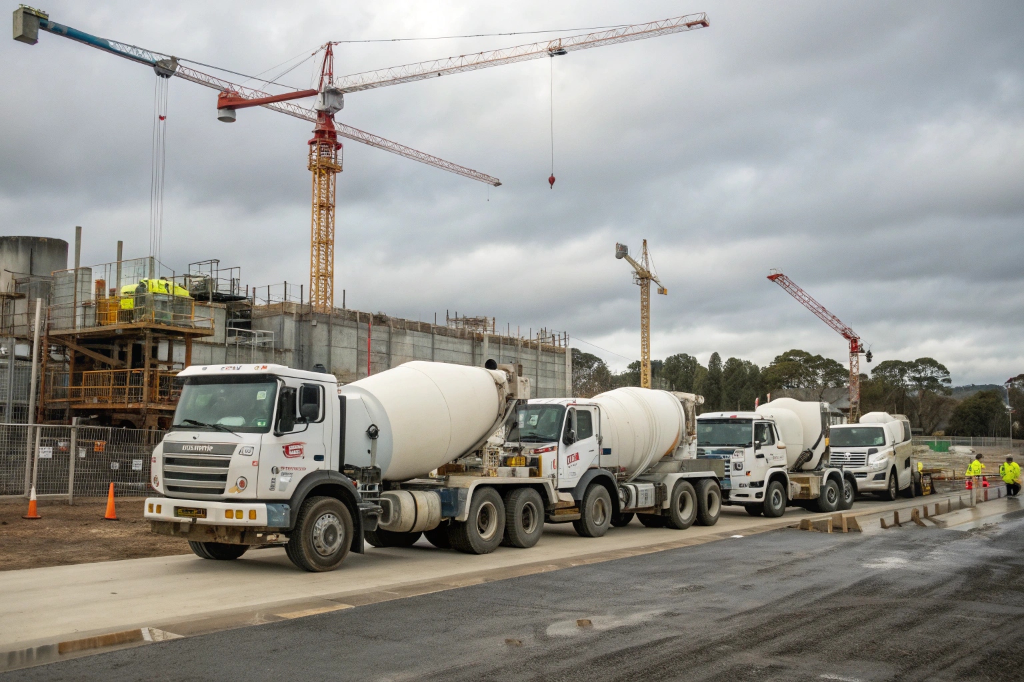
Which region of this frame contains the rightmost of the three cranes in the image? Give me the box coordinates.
[767,255,894,401]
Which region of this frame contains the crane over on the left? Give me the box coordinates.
[10,0,711,311]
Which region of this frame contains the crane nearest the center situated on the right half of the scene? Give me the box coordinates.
[568,240,667,372]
